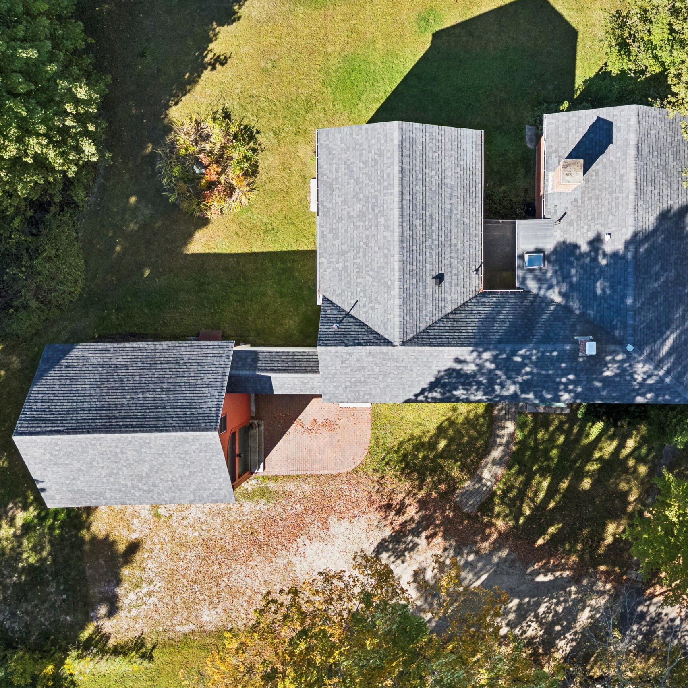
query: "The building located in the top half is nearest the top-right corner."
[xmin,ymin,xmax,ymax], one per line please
[313,105,688,402]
